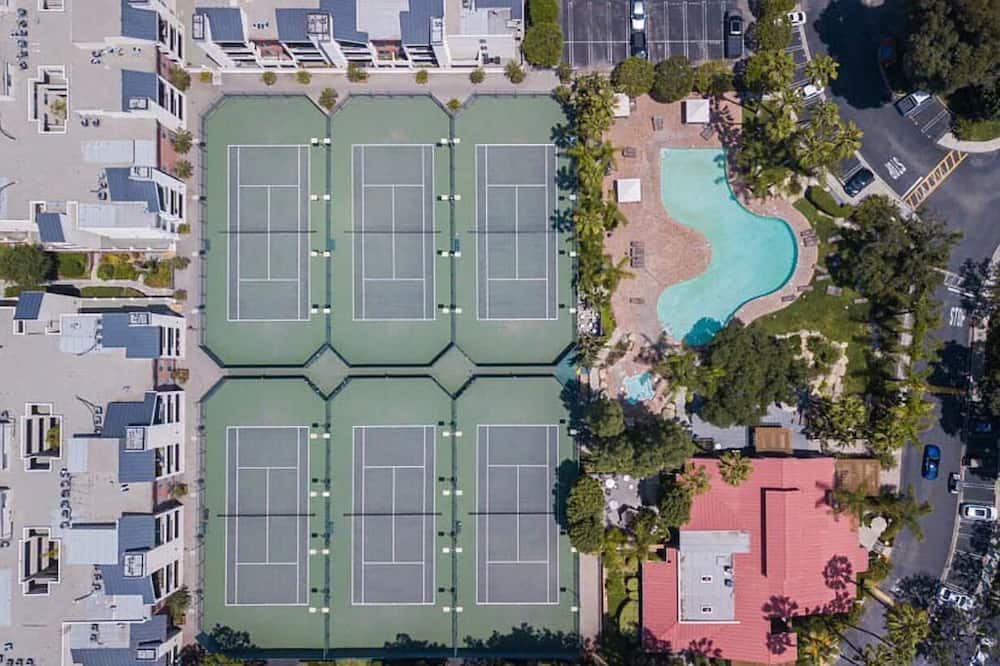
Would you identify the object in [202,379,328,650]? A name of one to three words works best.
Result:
tennis court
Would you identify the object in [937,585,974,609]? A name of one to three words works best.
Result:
car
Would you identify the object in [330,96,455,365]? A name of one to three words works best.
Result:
tennis court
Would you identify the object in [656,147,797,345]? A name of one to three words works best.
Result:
swimming pool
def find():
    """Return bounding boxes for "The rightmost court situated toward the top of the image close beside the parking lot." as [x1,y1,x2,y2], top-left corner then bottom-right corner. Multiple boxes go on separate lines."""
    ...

[456,96,577,365]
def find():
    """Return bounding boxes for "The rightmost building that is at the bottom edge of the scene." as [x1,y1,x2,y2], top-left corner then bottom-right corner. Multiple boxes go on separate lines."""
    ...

[643,457,868,662]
